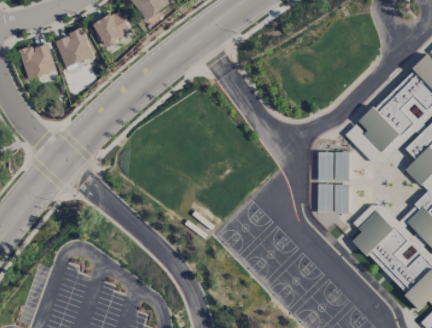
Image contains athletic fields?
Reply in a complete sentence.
Yes, this view includes an athletic field.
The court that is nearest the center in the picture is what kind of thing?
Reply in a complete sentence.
Looking closely, the court that is nearest the center is a basketball court.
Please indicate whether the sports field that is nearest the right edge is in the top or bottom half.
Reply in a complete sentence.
The sports field that is nearest the right edge sits in the top half of the picture.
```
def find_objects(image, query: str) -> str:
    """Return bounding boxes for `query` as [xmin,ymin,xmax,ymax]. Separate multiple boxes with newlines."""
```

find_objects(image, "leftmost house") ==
[19,43,58,80]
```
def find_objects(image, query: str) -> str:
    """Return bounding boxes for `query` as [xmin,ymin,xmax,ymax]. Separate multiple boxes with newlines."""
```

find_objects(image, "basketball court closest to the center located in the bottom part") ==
[218,201,274,256]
